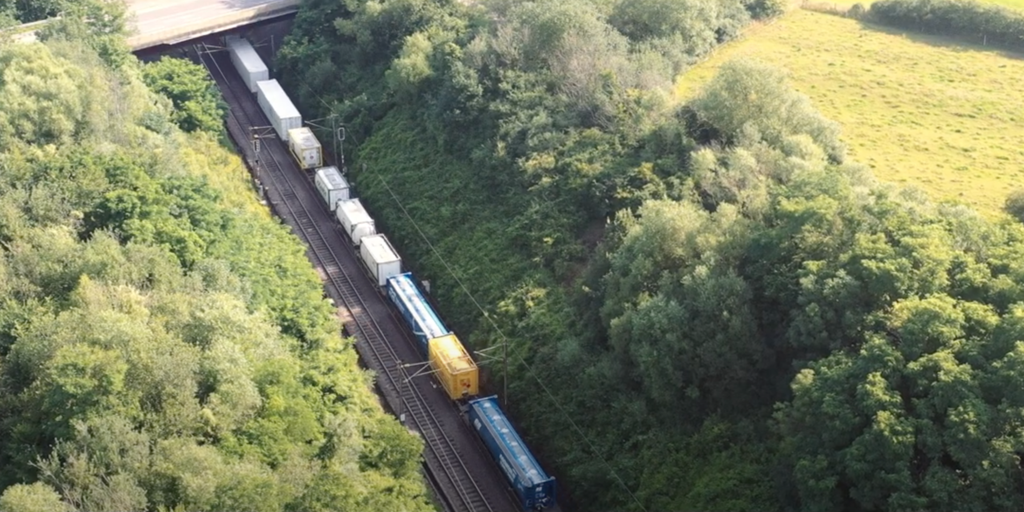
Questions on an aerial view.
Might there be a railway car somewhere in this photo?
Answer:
Yes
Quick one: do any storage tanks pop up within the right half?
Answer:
No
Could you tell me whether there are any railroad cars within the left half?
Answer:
Yes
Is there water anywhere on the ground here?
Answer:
No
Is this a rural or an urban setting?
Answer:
rural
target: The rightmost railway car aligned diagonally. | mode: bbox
[461,407,560,512]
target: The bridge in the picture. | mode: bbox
[105,0,322,63]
